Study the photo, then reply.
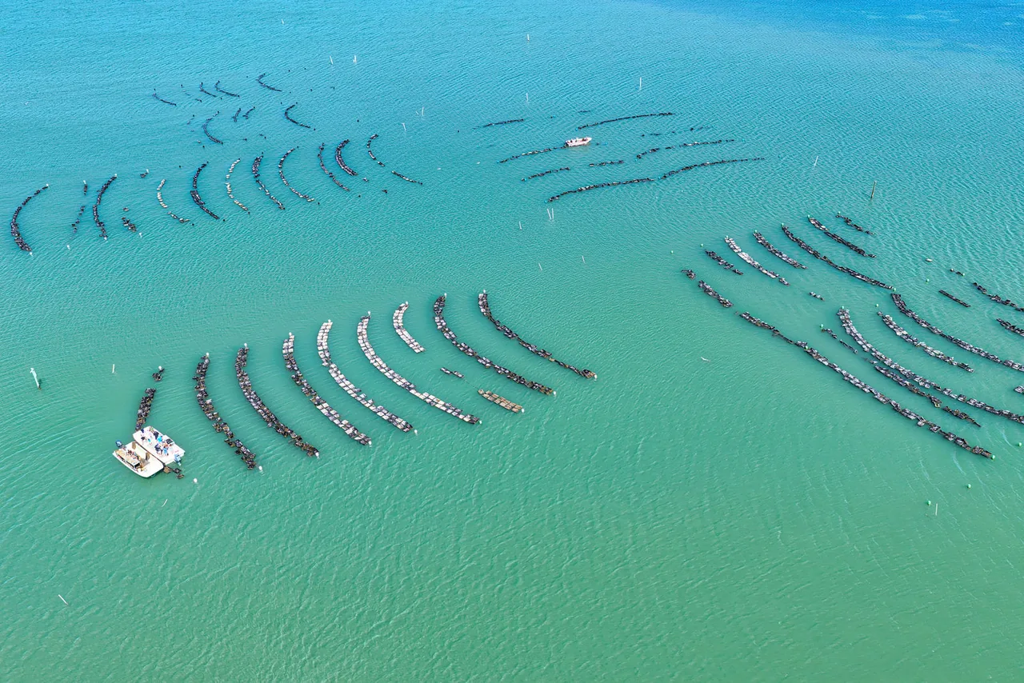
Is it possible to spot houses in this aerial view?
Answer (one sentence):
No, no house can be seen from above.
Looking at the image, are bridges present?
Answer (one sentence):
No, there appears to be no bridge in this shot.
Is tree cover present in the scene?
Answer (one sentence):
No, the scene doesn't show any tree cover.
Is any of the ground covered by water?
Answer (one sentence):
Yes, the picture does contain water.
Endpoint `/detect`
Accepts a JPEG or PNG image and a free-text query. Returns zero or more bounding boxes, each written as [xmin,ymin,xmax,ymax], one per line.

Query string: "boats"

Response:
[561,139,591,150]
[113,441,165,479]
[132,425,186,466]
